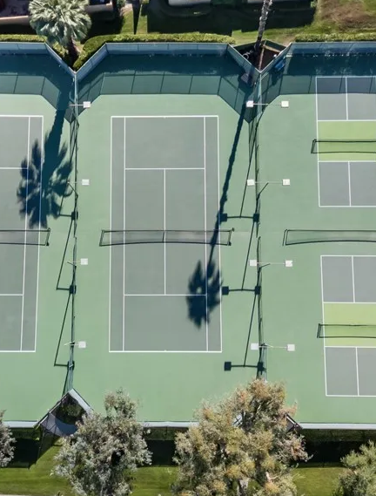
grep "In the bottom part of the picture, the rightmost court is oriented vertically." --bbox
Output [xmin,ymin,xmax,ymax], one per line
[322,256,376,396]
